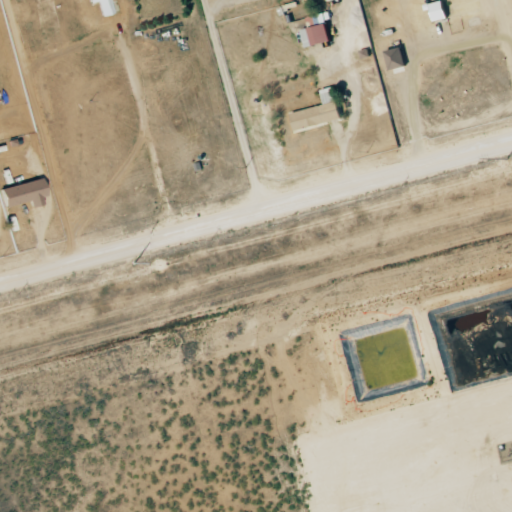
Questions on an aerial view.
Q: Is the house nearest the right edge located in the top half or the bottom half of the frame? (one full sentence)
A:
The top half of the photo is where the house nearest the right edge is.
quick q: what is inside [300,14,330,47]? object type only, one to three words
house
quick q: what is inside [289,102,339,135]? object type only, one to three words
house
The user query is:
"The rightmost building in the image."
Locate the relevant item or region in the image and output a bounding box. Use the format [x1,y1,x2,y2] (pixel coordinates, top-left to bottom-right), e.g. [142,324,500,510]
[422,0,446,22]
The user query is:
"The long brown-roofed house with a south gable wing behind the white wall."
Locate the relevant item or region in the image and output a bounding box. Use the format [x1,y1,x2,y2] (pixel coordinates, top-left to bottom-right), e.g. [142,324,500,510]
[1,178,49,208]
